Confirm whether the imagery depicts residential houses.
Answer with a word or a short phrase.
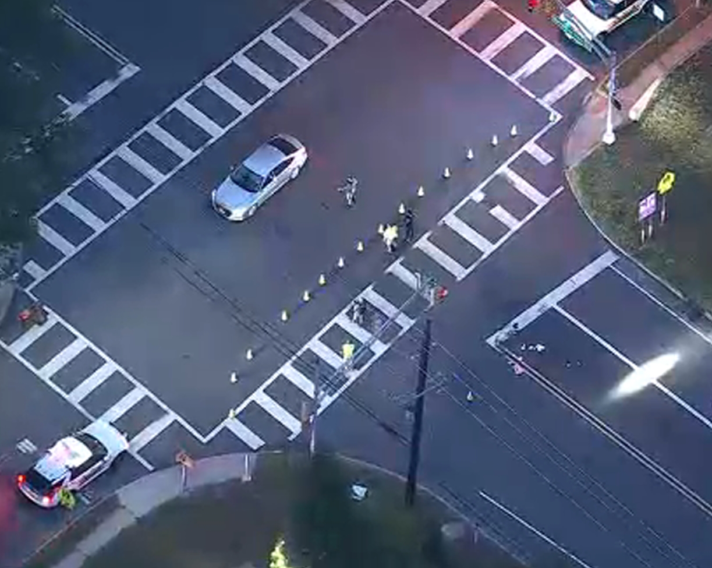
No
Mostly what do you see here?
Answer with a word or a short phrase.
paved ground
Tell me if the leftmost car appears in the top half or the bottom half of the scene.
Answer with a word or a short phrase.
bottom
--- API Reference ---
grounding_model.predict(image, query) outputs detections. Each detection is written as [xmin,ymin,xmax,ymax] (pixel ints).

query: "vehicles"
[558,0,663,48]
[212,132,306,221]
[19,422,134,511]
